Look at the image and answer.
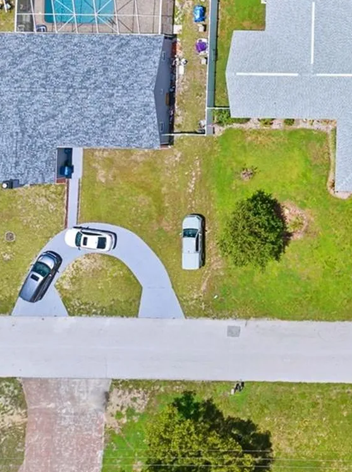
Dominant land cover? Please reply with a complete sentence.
Most of the picture is covered by grass.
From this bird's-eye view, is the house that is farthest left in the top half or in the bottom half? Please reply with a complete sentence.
The top half of the photo is where the house that is farthest left is.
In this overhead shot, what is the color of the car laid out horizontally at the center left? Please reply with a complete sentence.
From above, the car laid out horizontally at the center left appears white.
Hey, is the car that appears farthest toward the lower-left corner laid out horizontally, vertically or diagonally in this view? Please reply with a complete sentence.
The car that appears farthest toward the lower-left corner is laid out diagonally.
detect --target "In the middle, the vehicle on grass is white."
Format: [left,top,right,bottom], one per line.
[179,213,207,269]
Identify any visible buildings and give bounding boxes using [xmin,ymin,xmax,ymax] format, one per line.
[225,0,352,192]
[0,32,174,186]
